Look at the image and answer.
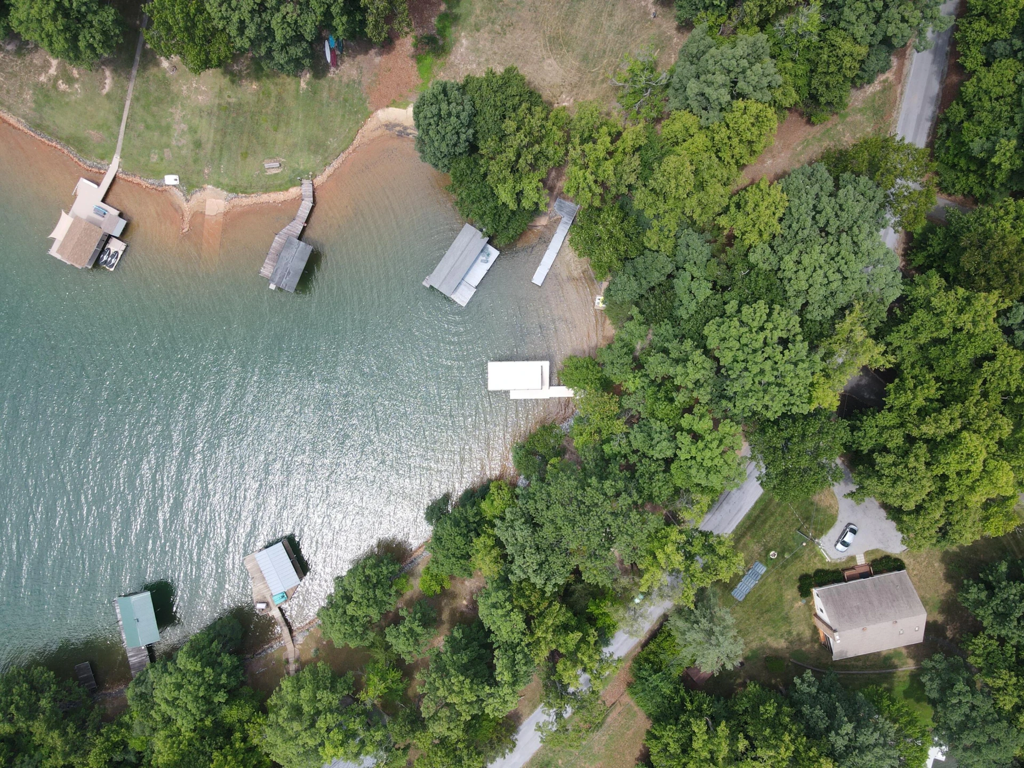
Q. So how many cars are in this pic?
1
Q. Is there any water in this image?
Yes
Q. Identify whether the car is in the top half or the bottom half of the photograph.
bottom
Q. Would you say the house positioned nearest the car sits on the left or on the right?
right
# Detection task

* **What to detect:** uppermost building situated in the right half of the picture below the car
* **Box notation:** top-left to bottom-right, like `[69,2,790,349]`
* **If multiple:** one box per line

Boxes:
[808,560,927,662]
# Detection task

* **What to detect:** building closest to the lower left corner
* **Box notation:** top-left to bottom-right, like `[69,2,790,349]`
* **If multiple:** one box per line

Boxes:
[112,587,169,683]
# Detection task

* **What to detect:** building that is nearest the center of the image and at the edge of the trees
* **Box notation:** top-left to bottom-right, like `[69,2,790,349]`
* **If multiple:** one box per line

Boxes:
[488,361,549,399]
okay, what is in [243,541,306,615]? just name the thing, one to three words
building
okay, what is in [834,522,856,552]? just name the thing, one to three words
car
